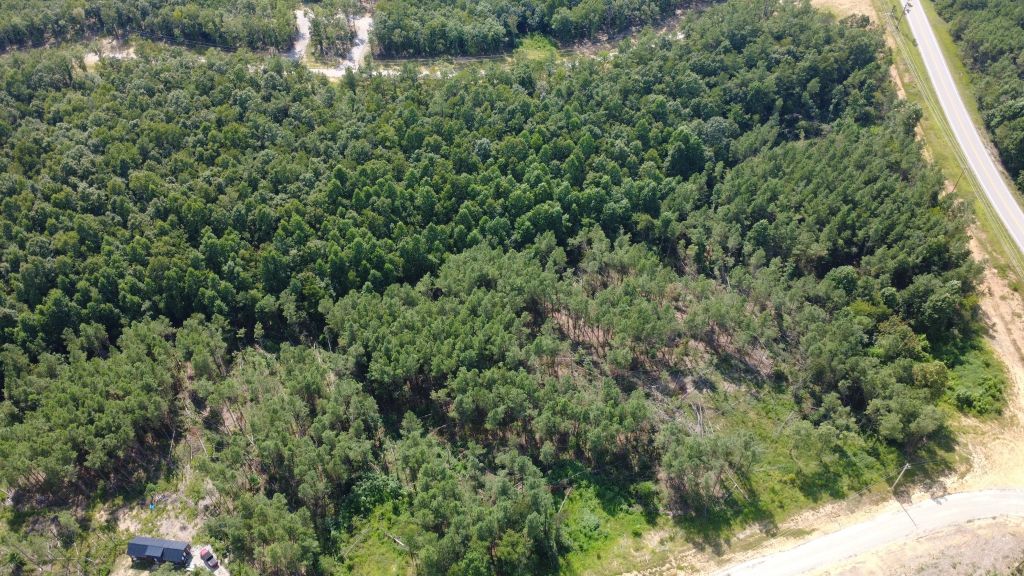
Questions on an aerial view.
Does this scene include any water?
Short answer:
No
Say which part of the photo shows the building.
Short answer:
bottom left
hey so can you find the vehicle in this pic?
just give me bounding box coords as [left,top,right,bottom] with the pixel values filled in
[199,547,218,567]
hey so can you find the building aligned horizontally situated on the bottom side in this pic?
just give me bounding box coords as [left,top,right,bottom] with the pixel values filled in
[125,536,196,569]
